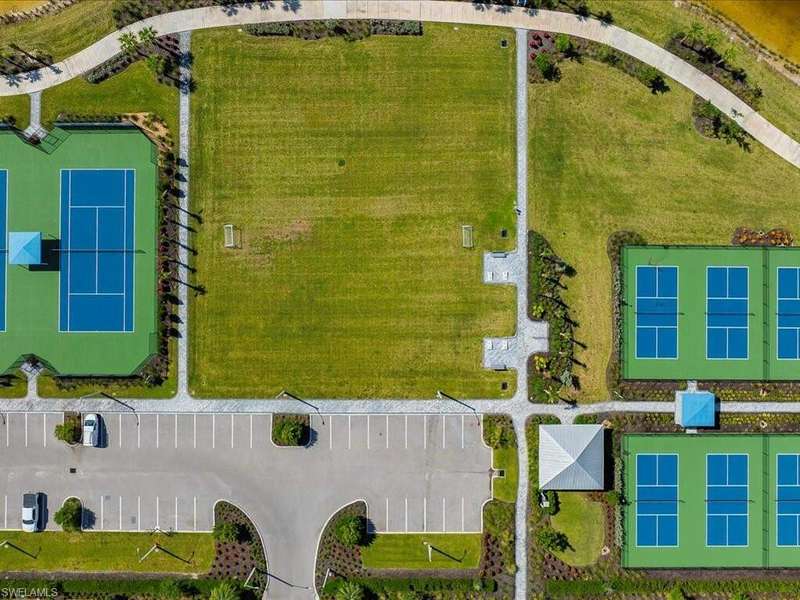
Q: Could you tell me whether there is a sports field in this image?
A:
Yes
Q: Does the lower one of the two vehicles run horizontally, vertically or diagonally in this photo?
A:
vertically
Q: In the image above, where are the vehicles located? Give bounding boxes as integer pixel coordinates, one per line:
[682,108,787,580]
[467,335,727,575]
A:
[22,491,41,531]
[80,414,98,446]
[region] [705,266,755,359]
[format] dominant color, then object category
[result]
blue sports court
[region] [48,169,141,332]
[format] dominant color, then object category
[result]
blue tennis court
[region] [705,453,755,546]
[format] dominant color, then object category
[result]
blue sports court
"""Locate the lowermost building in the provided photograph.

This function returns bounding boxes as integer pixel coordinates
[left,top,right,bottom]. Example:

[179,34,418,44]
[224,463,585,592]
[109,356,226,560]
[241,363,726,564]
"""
[538,423,605,490]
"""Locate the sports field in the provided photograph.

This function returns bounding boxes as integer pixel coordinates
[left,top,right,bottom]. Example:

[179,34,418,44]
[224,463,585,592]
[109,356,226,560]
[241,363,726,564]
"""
[190,21,517,398]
